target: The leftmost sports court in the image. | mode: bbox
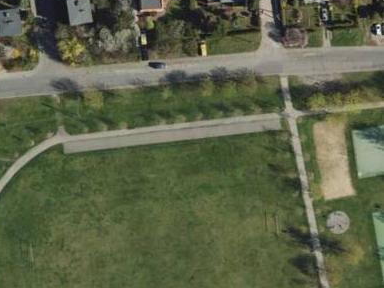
[314,119,356,201]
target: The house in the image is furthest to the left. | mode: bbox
[0,8,24,39]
